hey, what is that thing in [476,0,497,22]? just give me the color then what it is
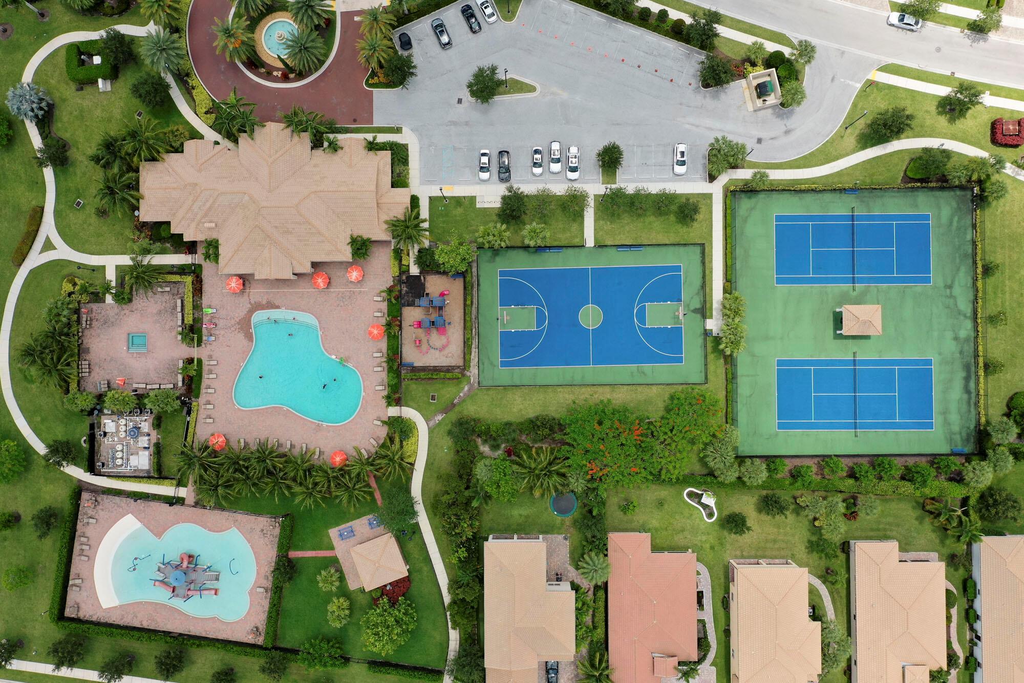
white car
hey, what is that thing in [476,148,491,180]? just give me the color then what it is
white car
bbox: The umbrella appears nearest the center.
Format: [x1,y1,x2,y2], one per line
[369,324,385,340]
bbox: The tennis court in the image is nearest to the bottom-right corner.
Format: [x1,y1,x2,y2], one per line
[776,358,935,430]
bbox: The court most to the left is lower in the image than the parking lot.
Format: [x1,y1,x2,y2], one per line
[477,244,707,387]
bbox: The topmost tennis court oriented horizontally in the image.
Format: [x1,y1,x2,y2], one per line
[774,213,932,286]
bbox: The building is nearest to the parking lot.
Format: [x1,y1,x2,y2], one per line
[139,119,411,281]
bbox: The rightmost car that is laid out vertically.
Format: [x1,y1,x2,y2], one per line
[674,141,689,174]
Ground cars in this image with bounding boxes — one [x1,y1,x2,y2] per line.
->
[530,145,544,175]
[476,0,497,22]
[566,145,582,179]
[889,12,924,30]
[460,1,482,34]
[497,148,512,181]
[674,141,689,174]
[430,16,452,50]
[545,660,560,683]
[476,148,491,180]
[548,139,563,173]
